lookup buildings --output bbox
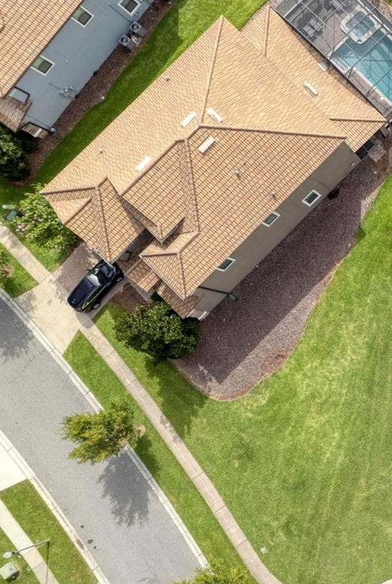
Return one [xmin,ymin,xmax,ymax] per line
[40,5,388,327]
[0,0,147,132]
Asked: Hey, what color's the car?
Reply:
black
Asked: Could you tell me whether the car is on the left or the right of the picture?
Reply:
left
